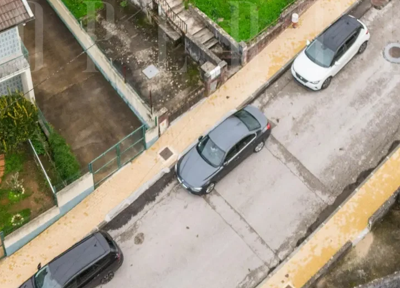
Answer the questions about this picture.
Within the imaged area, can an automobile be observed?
Yes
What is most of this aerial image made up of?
paved ground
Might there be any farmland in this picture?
No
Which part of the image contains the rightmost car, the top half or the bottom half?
top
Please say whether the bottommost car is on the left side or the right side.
left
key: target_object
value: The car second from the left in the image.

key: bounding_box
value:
[173,109,271,201]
